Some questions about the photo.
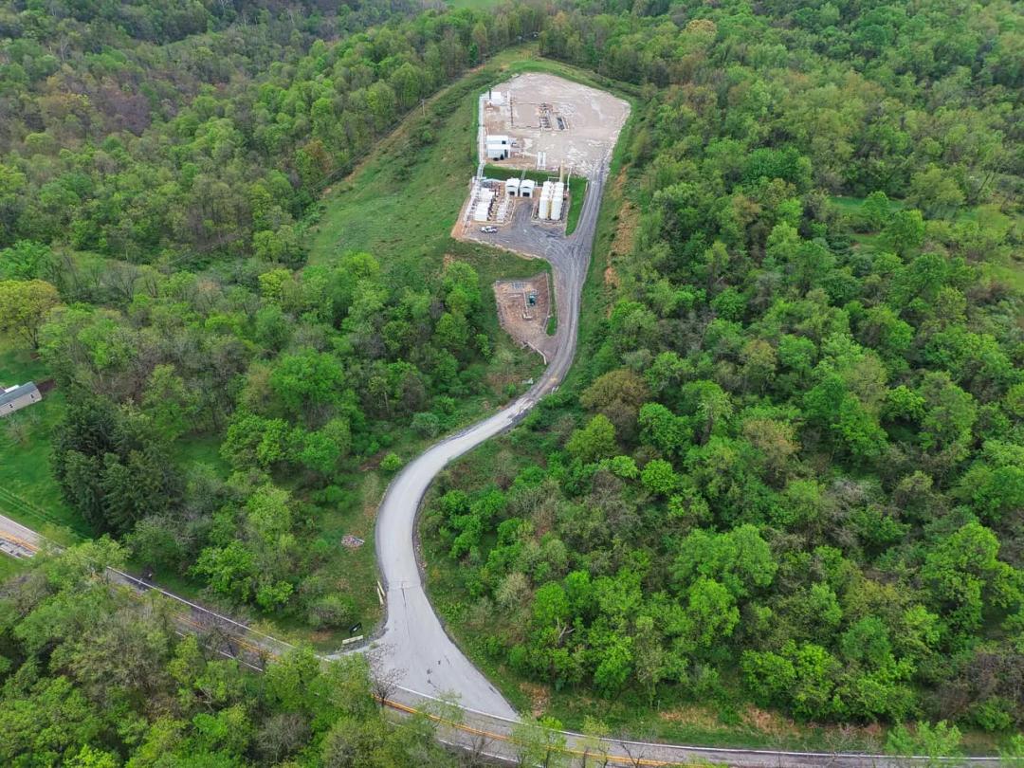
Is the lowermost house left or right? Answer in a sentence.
The lowermost house sits on the left side.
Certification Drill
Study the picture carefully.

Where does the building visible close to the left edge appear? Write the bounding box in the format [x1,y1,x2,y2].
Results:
[0,382,42,416]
